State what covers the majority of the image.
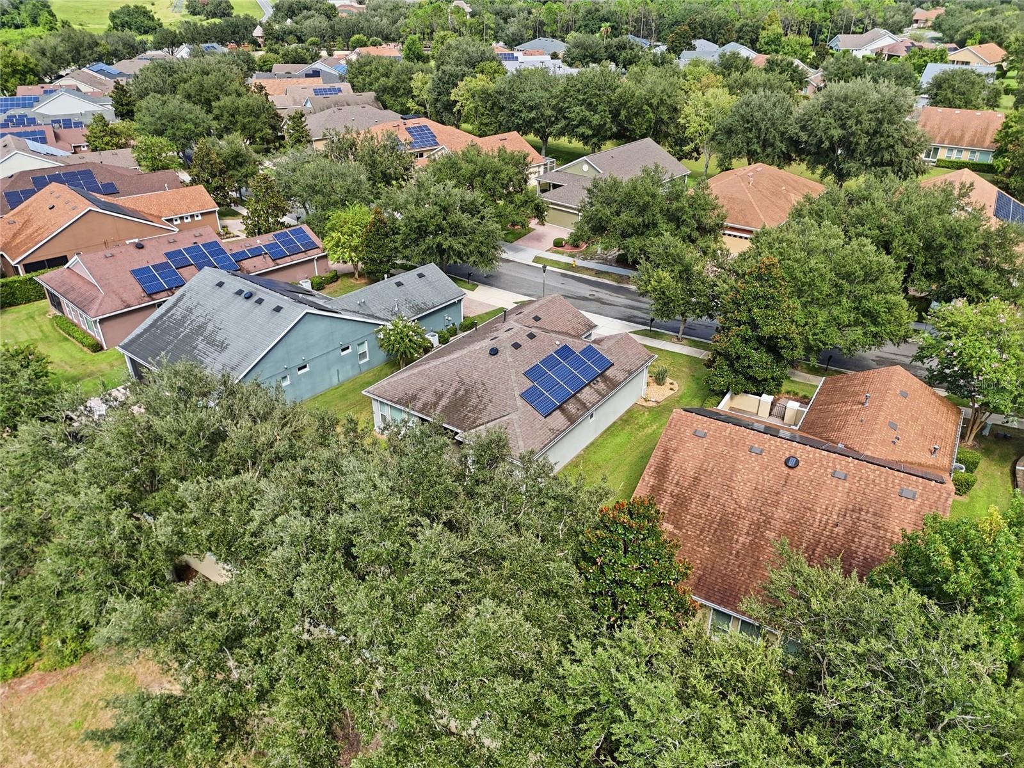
trees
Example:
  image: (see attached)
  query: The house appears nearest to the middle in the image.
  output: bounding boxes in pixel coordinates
[368,293,658,480]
